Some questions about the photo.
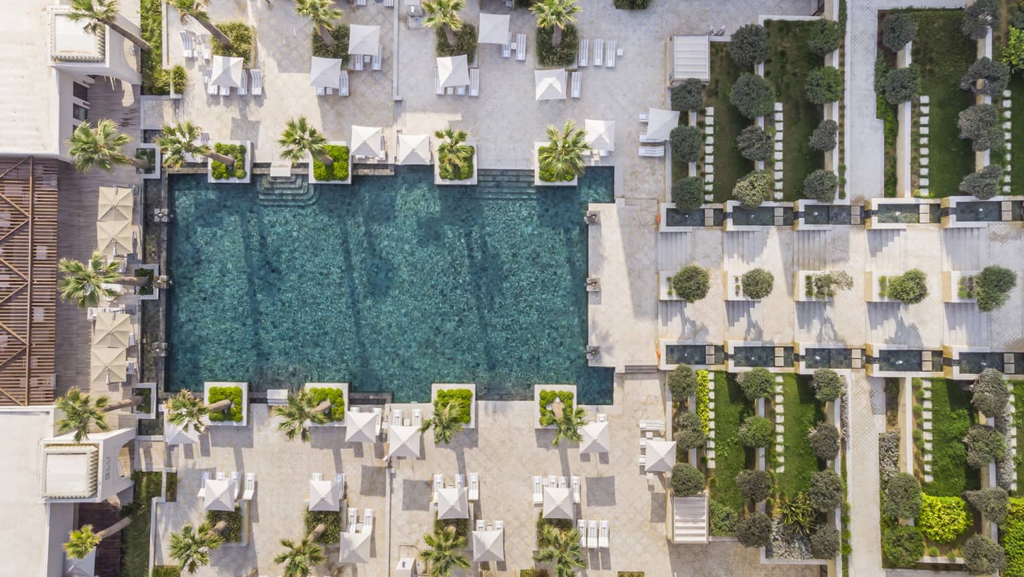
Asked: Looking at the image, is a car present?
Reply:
No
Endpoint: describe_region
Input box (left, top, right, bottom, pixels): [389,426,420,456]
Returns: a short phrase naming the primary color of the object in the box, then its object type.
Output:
white umbrella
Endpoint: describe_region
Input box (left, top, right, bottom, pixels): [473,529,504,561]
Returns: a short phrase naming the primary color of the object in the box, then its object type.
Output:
white umbrella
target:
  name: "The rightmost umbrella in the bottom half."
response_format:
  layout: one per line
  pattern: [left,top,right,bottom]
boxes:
[644,440,675,471]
